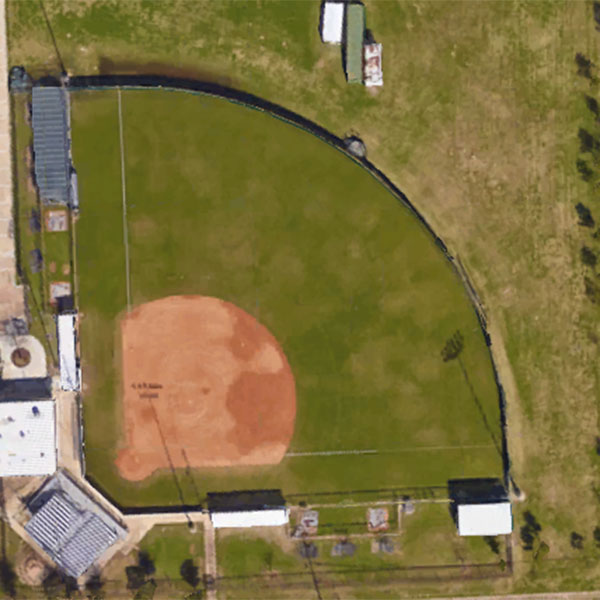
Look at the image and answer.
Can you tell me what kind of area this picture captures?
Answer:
sports ground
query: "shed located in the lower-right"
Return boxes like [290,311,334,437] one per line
[458,503,513,536]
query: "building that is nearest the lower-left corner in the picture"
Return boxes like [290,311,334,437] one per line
[0,401,58,476]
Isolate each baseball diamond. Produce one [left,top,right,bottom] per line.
[69,87,508,513]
